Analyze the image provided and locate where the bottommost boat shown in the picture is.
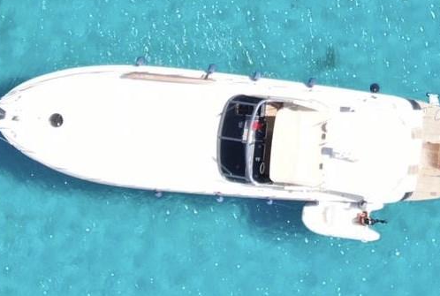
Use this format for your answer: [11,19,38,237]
[302,203,387,240]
